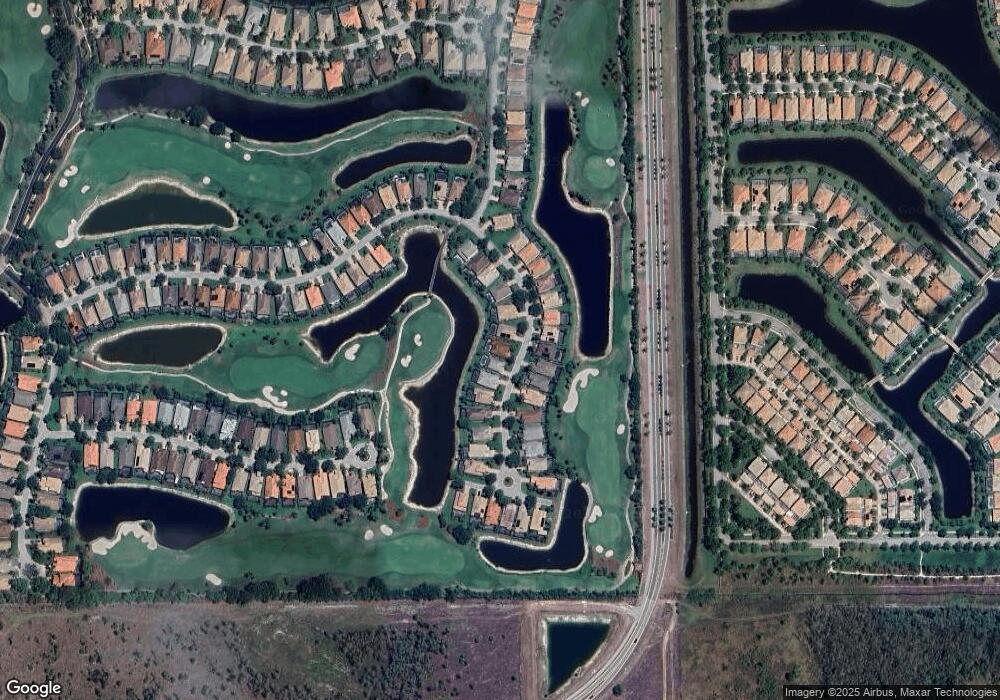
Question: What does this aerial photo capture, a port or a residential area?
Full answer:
The picture captures a residential area.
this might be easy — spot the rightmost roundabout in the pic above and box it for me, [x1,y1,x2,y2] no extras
[972,169,1000,203]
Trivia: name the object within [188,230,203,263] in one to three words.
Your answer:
house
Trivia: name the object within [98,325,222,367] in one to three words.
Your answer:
pond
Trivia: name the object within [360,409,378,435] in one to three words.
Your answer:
house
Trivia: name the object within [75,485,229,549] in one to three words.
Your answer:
pond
